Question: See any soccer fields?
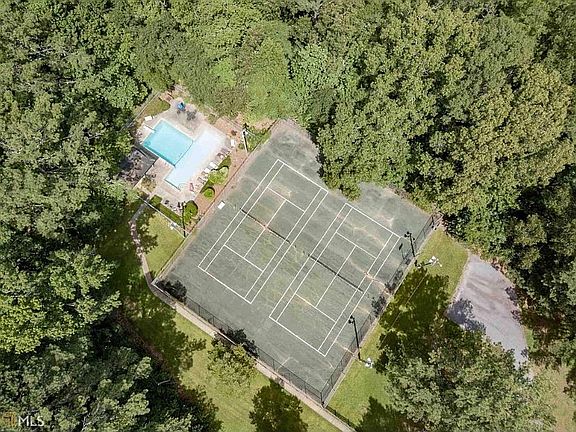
No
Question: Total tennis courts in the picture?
2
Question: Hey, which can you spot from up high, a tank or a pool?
pool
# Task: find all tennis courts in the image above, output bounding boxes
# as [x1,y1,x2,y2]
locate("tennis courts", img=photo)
[152,118,348,344]
[237,176,434,404]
